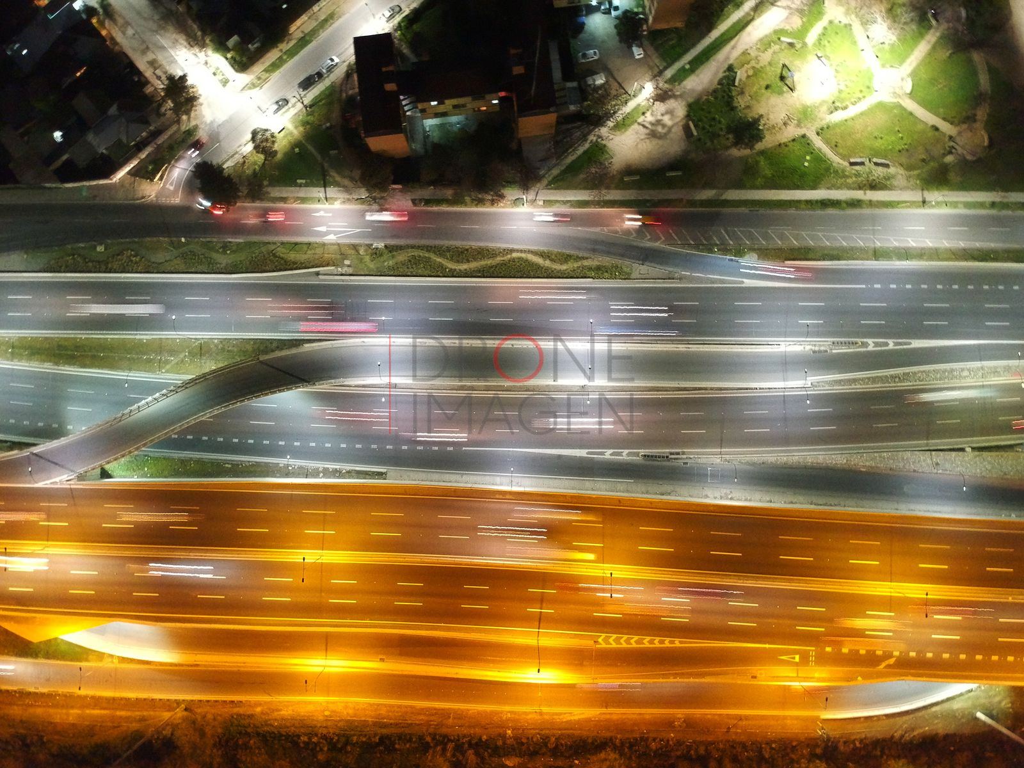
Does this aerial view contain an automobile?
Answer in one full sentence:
Yes, looking at the shot, I can spot an automobile.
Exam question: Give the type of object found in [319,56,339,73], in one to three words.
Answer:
car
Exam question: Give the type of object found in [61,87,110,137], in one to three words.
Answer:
house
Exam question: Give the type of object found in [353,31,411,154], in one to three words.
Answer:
building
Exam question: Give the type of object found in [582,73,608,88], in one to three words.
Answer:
vehicle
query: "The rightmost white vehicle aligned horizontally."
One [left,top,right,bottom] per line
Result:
[919,387,980,404]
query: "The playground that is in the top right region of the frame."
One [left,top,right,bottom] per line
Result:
[735,39,839,134]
